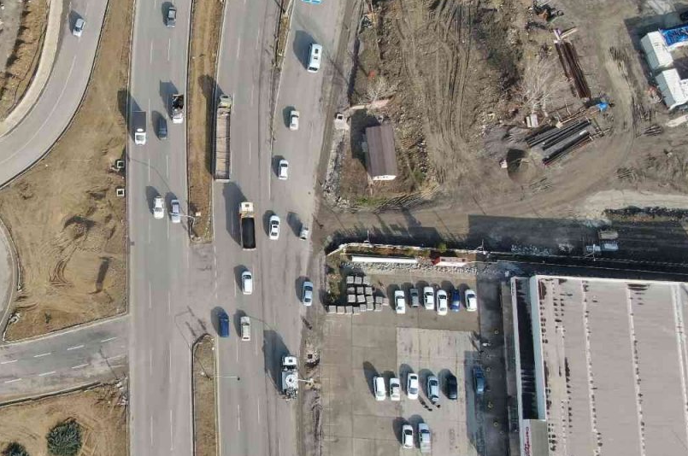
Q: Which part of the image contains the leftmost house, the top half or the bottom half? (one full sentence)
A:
The leftmost house is in the top half of the image.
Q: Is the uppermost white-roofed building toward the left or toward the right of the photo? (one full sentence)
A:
It is on the right.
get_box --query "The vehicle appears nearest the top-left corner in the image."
[72,17,85,37]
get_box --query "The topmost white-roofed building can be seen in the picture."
[641,30,673,73]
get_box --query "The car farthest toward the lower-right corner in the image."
[471,366,486,395]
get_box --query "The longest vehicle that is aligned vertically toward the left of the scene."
[217,91,233,180]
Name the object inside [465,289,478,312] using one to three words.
vehicle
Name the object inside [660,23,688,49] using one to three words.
building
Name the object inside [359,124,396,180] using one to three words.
house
